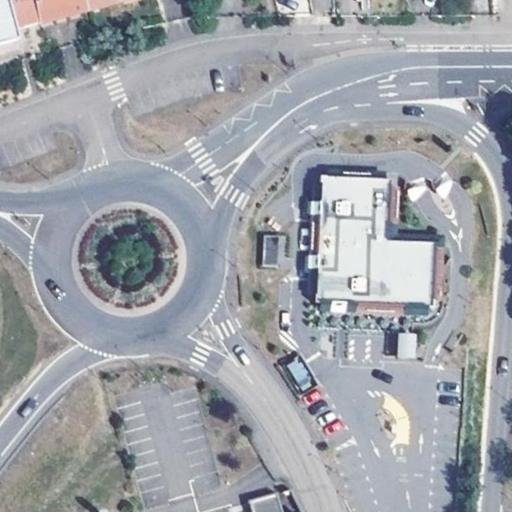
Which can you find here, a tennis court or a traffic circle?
traffic circle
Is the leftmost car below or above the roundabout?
below it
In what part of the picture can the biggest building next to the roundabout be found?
right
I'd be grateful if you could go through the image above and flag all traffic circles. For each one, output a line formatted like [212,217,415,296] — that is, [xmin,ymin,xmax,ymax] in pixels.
[30,162,227,358]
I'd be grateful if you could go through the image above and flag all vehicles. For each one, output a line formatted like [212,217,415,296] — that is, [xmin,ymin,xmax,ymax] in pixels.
[18,396,38,416]
[438,382,460,392]
[280,0,302,11]
[372,368,394,384]
[316,410,336,426]
[498,356,508,376]
[302,390,322,404]
[300,228,310,250]
[438,395,460,405]
[403,106,424,116]
[282,310,292,330]
[45,279,64,300]
[232,344,250,366]
[309,400,330,415]
[212,69,225,92]
[324,420,344,435]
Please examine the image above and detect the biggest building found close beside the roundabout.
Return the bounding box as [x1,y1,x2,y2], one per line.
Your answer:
[308,172,446,316]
